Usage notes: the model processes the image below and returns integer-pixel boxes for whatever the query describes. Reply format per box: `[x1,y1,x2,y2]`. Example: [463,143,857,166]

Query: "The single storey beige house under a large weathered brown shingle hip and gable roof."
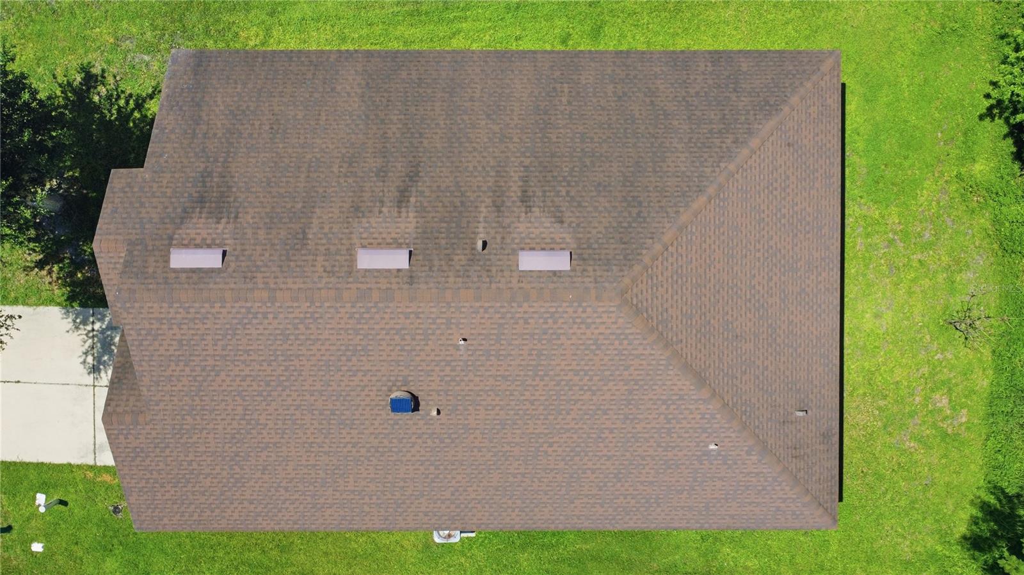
[92,48,842,532]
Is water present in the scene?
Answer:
No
